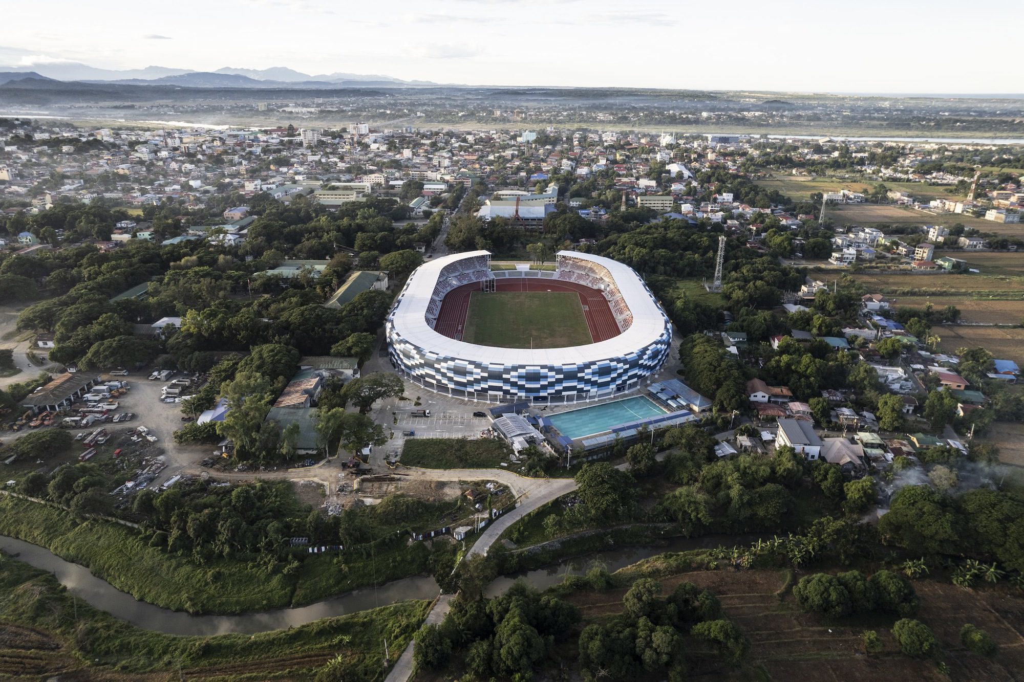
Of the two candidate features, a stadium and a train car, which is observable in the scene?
stadium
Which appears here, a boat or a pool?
pool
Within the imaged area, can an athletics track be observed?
Yes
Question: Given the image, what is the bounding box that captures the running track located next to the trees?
[430,278,624,344]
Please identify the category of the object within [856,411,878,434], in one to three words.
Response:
house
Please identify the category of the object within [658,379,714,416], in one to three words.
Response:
building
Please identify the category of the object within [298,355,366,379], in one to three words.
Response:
building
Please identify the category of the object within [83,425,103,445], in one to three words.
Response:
bus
